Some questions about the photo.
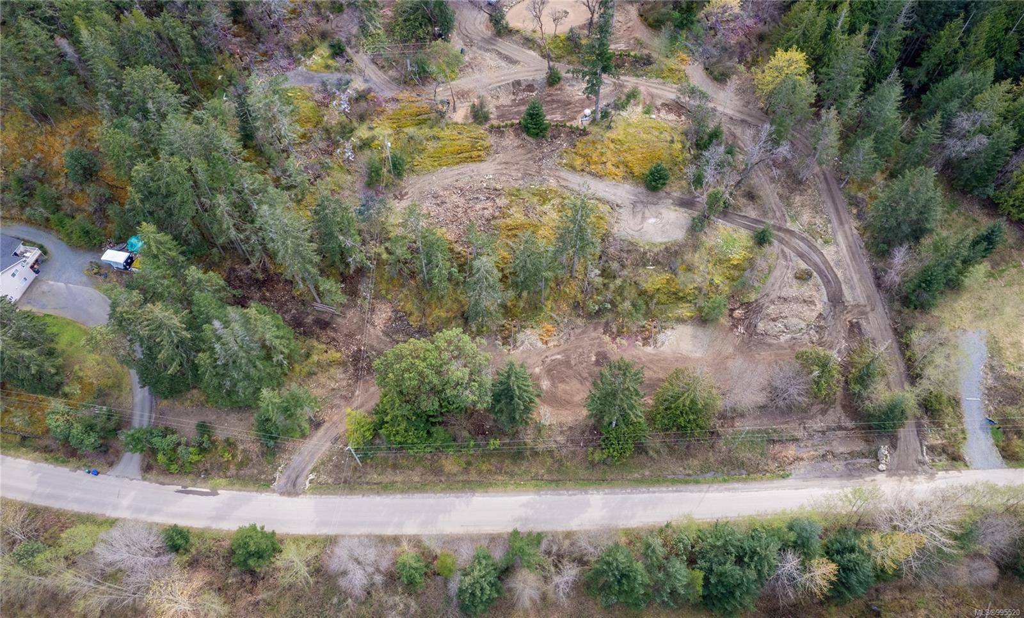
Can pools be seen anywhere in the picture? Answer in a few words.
No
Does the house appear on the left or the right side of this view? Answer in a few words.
left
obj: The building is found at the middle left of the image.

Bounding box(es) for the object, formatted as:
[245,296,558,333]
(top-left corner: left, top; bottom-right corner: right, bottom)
[0,238,48,311]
